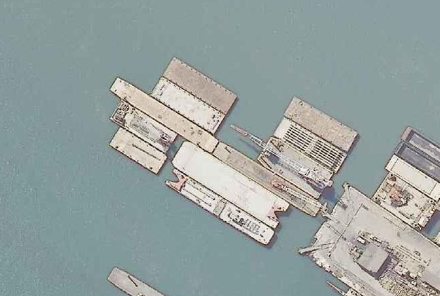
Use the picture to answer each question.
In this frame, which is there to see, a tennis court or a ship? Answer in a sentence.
Looking from above, you can make out a ship.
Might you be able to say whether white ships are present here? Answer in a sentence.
Yes, the image includes a white ship.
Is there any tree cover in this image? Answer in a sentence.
No, there's no tree cover in this view.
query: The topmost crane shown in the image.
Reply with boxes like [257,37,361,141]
[231,123,333,191]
